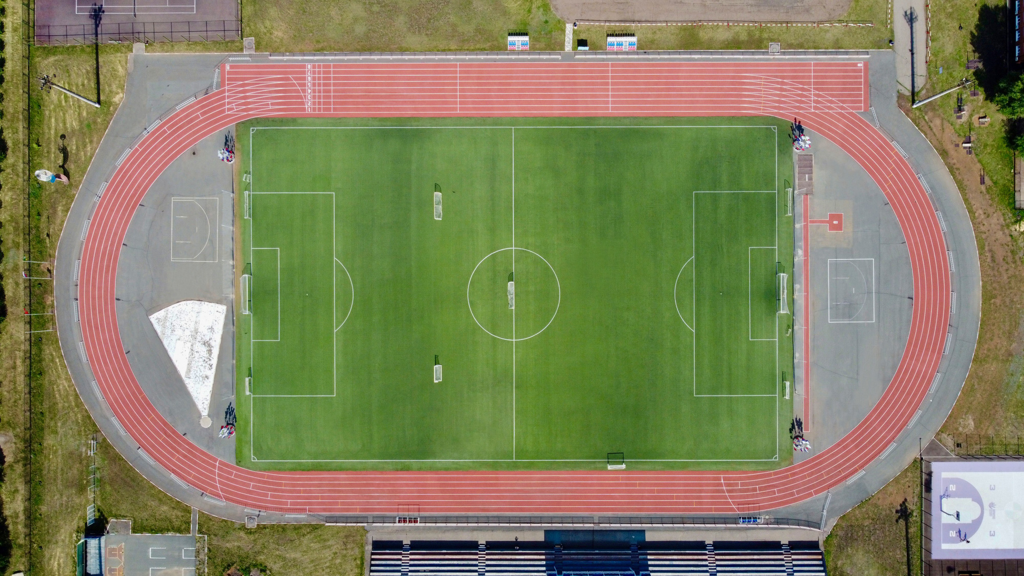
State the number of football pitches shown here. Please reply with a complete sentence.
The count comes to 1 football pitch.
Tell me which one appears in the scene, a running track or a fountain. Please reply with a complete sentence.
The one in the frame is a running track.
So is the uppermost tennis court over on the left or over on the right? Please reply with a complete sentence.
It is on the left.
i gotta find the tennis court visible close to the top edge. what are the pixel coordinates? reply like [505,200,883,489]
[35,0,242,45]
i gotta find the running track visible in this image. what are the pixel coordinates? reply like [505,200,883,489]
[78,61,951,513]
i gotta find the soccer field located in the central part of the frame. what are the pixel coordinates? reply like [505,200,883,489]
[235,116,794,471]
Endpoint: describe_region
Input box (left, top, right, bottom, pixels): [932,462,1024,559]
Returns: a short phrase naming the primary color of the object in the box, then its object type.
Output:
white basketball court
